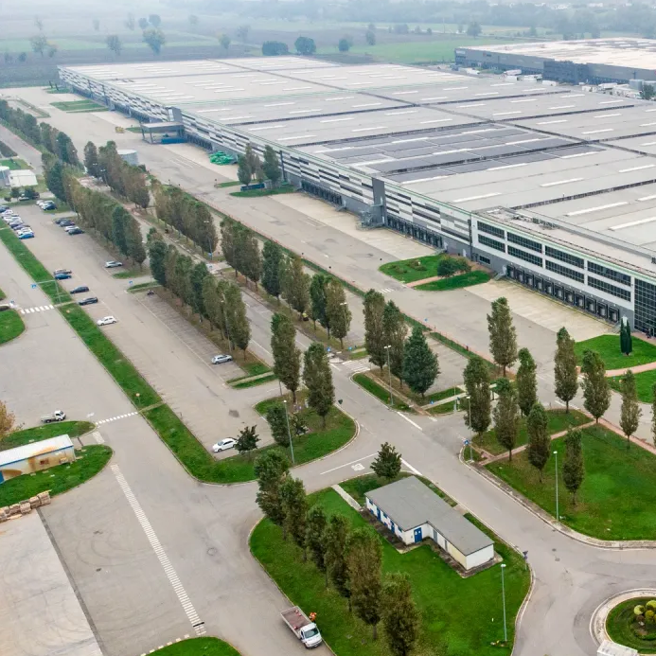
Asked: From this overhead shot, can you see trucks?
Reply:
Yes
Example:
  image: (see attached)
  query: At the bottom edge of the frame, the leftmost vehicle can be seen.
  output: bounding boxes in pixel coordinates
[283,605,316,639]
